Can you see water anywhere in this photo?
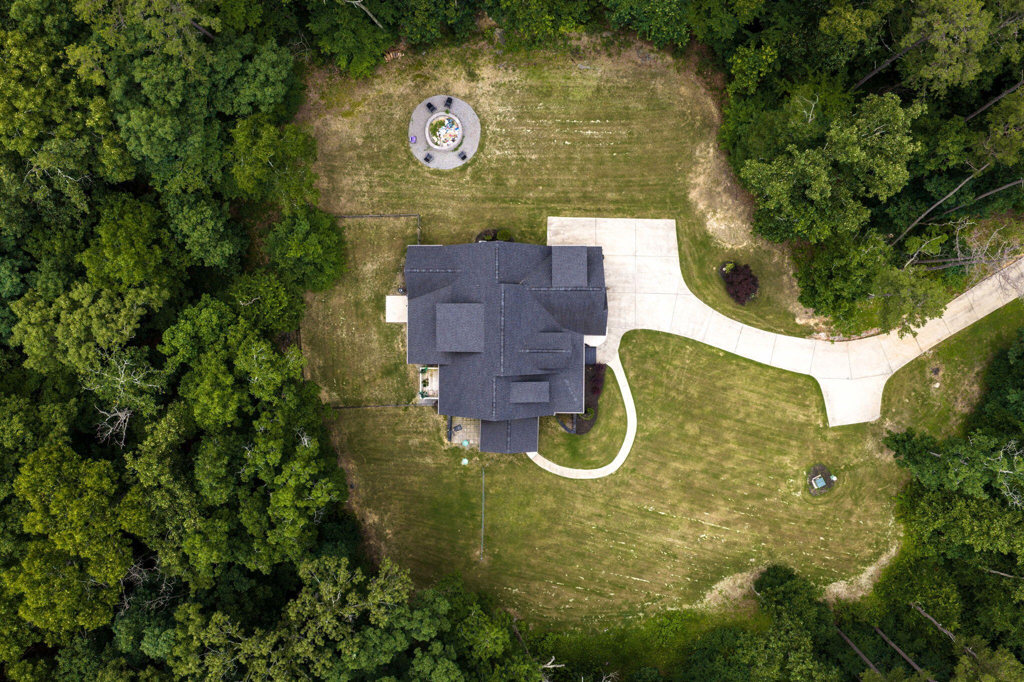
No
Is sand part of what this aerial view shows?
No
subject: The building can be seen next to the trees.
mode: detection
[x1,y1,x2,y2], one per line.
[404,241,608,453]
